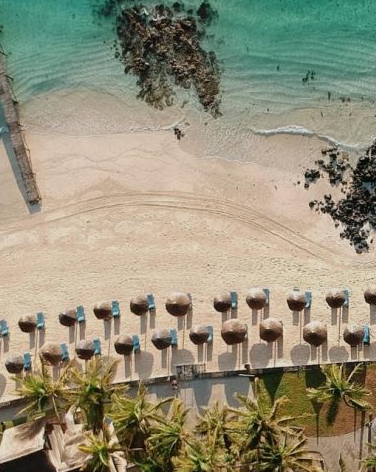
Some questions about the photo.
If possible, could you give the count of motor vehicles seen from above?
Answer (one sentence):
The picture shows no motor vehicles.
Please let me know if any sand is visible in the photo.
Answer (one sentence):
Yes, some sand is visible.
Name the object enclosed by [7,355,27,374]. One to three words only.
umbrella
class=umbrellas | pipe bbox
[131,296,149,315]
[7,355,27,374]
[344,326,364,345]
[60,308,77,326]
[96,302,113,319]
[261,318,283,341]
[288,291,307,309]
[364,285,376,306]
[190,325,210,344]
[222,319,247,344]
[214,294,231,312]
[77,340,96,360]
[327,288,346,307]
[42,342,63,363]
[116,335,135,354]
[167,292,190,315]
[20,313,38,331]
[153,330,172,349]
[247,289,267,308]
[304,322,327,344]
